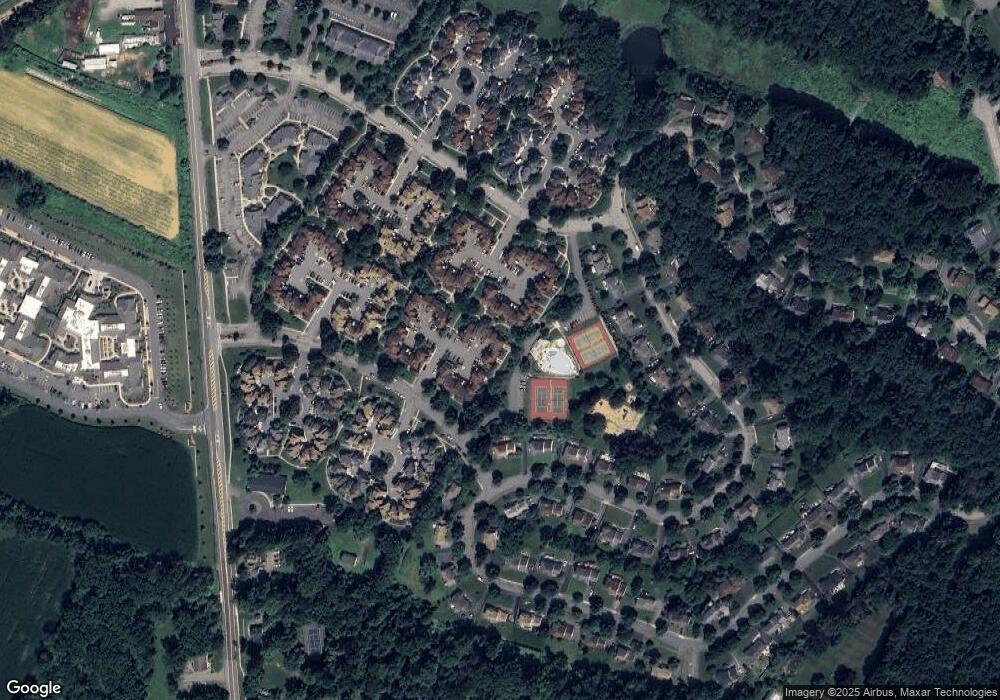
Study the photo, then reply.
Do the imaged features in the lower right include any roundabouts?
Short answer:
No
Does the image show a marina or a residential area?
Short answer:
residential area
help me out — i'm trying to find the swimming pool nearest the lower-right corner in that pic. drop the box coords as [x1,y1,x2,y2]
[530,337,580,376]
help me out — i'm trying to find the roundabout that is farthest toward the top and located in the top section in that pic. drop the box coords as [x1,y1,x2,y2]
[450,61,484,103]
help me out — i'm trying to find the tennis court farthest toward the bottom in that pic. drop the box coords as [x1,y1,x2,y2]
[304,625,324,655]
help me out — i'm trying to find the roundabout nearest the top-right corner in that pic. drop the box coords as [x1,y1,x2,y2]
[544,127,578,171]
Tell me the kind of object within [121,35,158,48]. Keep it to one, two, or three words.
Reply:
greenhouse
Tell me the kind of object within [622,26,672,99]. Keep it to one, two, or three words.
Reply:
pond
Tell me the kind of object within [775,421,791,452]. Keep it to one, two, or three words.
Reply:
house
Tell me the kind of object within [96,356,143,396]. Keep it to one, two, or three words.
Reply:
building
